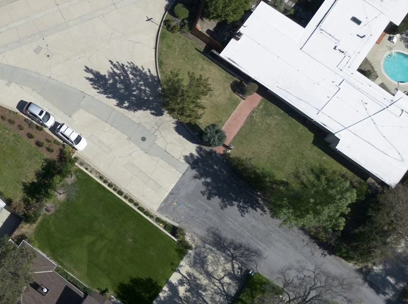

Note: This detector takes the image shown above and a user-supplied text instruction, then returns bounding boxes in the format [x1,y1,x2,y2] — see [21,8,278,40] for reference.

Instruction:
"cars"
[22,98,58,130]
[54,120,89,151]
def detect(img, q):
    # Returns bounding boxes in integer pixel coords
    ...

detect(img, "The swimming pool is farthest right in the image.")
[379,46,408,86]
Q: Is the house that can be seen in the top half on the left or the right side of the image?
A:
right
